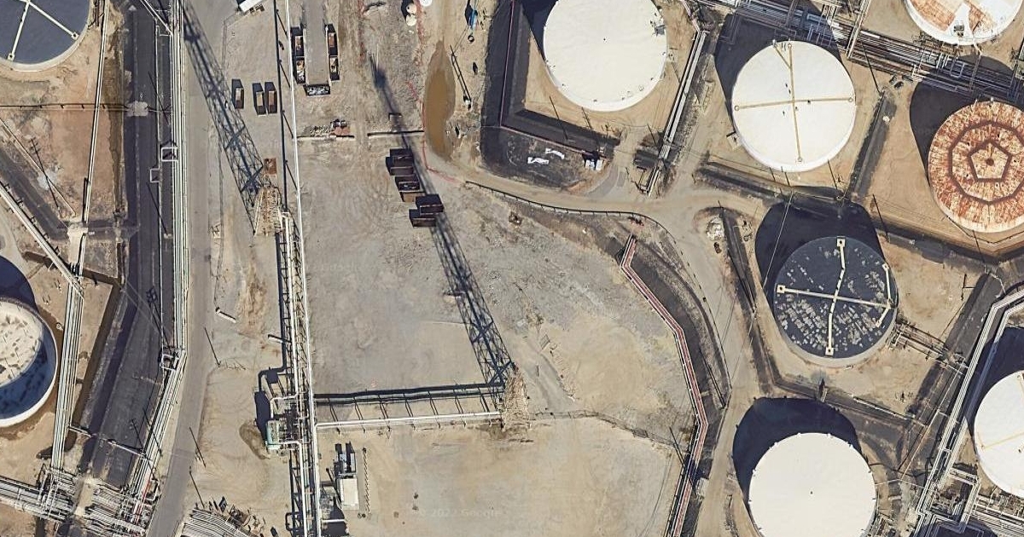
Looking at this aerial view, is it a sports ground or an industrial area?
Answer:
industrial area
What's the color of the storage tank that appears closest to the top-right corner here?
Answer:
white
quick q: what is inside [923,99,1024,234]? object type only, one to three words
storage tank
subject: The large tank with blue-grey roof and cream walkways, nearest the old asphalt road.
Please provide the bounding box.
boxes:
[0,0,95,72]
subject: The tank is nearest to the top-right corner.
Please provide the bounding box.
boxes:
[901,0,1023,54]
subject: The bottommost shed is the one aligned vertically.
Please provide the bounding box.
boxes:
[340,449,361,511]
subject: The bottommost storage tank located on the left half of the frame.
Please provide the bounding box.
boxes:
[0,295,63,436]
